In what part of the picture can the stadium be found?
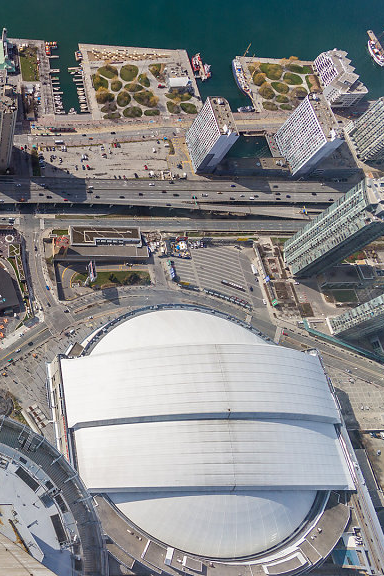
bottom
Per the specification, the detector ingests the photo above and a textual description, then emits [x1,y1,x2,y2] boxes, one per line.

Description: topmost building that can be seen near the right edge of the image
[297,49,368,117]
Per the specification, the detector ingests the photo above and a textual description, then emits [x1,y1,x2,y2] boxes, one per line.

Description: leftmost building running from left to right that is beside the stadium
[53,225,149,262]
